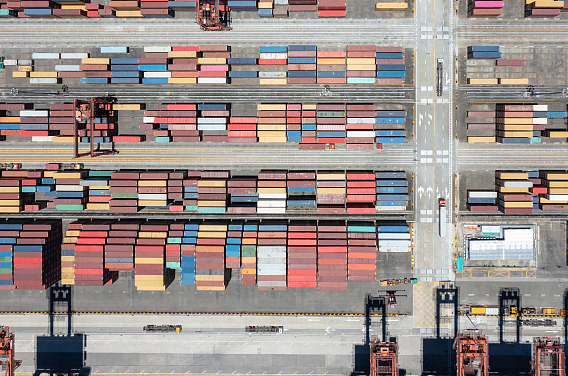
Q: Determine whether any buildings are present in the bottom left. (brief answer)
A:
No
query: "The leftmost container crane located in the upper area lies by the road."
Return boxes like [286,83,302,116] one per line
[74,95,120,161]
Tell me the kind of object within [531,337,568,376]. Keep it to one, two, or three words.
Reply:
container crane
